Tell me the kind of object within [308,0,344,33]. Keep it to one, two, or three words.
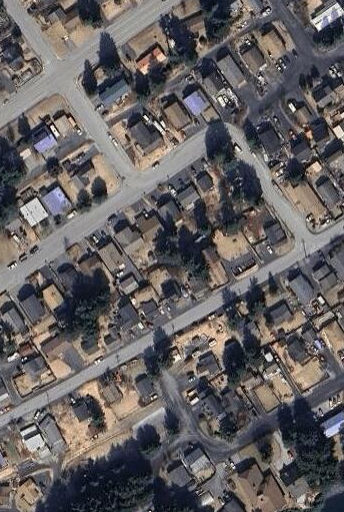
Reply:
house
